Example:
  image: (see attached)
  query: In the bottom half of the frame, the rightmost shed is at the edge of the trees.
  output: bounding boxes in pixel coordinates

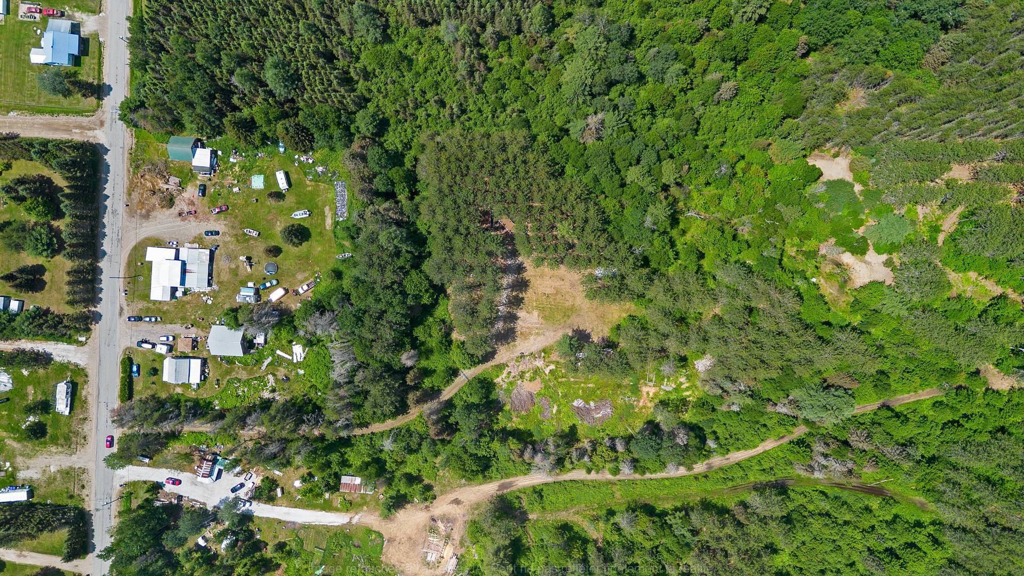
[341,474,372,493]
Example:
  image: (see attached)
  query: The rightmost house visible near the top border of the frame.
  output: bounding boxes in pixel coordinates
[29,19,84,68]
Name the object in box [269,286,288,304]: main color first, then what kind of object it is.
white vehicle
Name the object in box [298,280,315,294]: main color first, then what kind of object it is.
white vehicle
